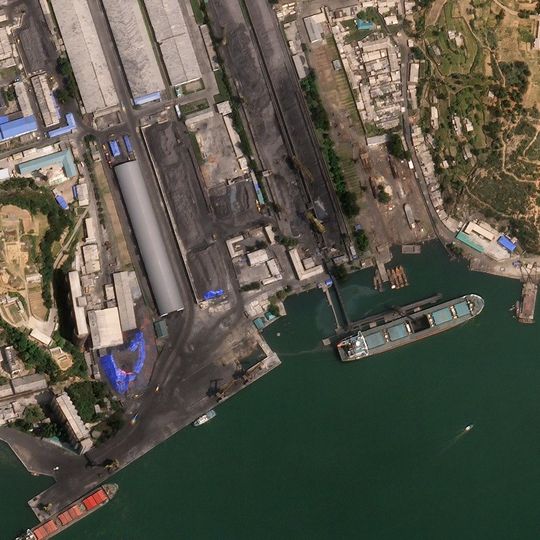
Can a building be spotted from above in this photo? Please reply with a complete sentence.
Yes, the photo shows a building.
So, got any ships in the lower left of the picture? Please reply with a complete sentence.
Yes, a ship shows up in the lower left of the picture.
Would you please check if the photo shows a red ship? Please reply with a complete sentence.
Yes, a red ship can be made out from above.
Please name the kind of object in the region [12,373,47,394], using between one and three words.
house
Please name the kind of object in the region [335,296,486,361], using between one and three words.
ship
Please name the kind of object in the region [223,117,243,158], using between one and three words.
building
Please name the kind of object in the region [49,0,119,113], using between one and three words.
shed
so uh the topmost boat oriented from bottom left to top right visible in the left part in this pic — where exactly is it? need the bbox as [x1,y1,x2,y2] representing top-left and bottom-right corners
[194,410,216,425]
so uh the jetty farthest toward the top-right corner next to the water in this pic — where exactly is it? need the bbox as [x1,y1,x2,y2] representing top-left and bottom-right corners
[370,246,392,282]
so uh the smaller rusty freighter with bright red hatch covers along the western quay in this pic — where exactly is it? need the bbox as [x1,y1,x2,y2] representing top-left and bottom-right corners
[17,476,120,540]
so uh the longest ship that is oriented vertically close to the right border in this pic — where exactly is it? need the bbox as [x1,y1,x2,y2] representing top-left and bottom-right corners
[520,279,536,323]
